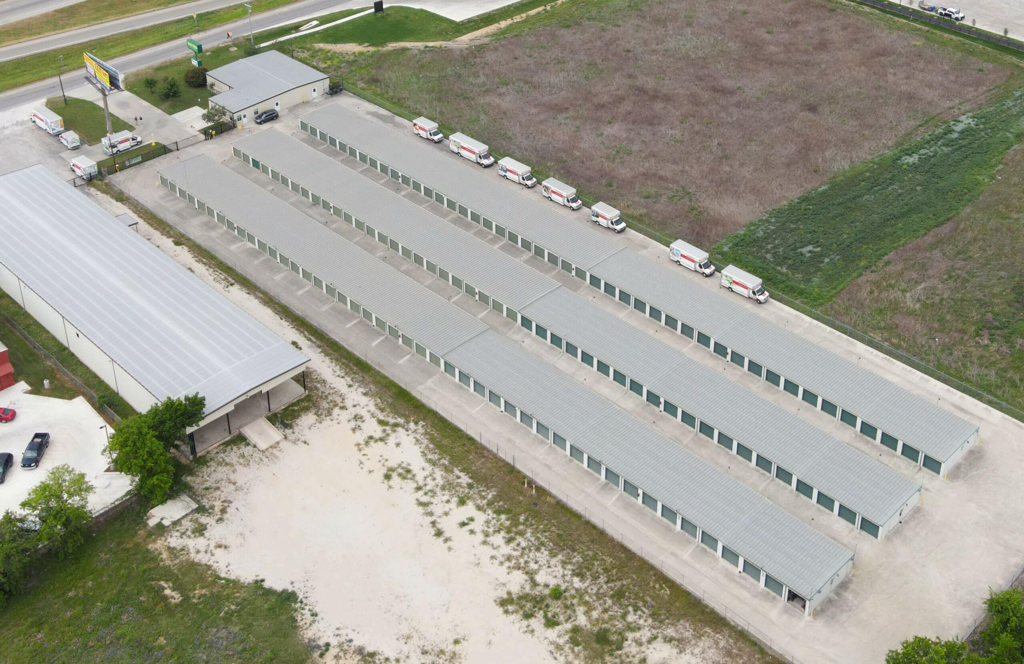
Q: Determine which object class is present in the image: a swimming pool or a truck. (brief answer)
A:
truck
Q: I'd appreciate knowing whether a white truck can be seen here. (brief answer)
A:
Yes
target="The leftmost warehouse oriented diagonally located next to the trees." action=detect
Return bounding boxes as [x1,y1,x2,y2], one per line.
[0,165,313,456]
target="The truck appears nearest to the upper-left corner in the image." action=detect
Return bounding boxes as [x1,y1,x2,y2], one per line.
[31,105,64,134]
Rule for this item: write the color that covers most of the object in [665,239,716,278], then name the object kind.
white truck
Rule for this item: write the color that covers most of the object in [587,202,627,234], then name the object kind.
white truck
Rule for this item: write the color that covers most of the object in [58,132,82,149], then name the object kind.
white vehicle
